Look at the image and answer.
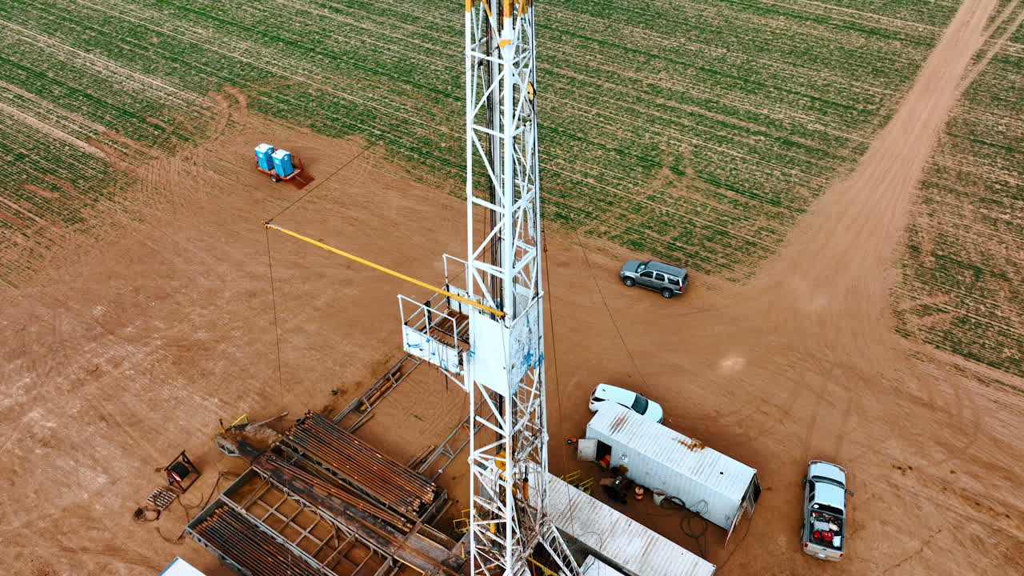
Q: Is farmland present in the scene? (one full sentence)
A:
Yes, there is farmland in the image.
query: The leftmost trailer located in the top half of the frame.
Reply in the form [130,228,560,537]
[253,158,319,191]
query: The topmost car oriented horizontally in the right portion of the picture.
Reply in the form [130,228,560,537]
[617,263,691,301]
